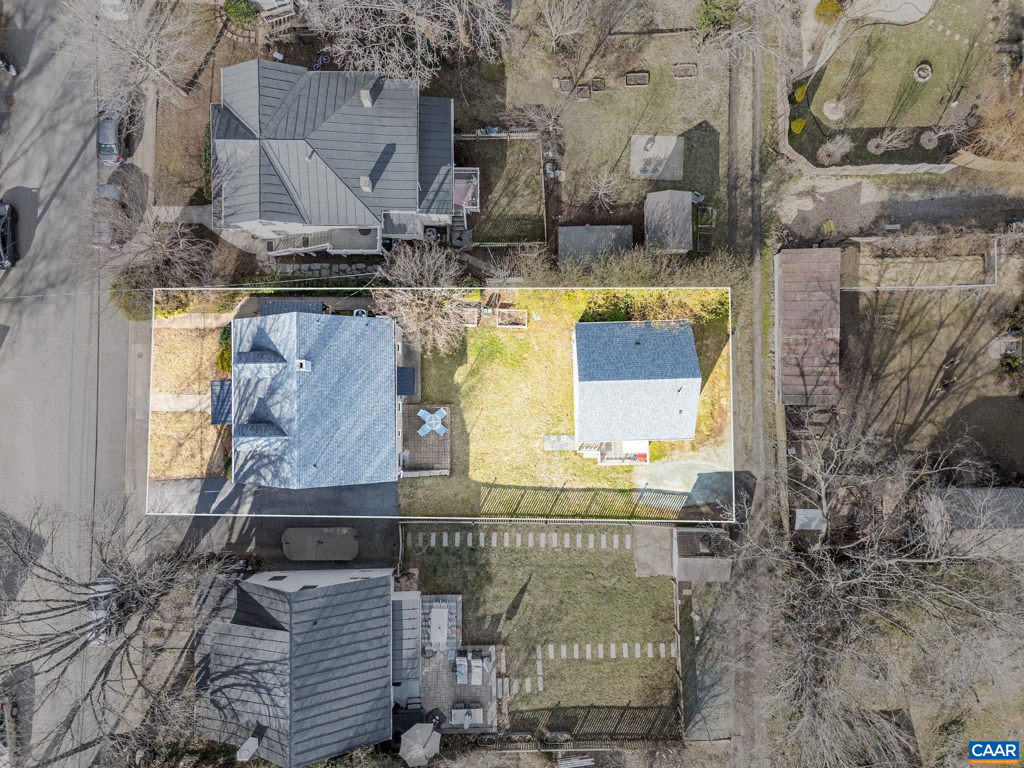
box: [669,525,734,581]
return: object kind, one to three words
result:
building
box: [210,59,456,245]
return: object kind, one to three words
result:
house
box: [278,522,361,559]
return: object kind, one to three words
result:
vehicle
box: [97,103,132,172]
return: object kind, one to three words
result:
car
